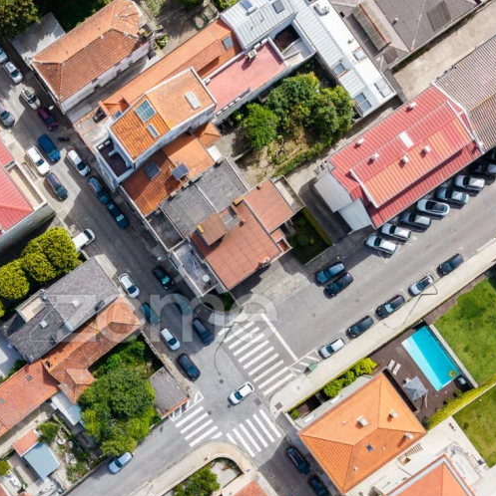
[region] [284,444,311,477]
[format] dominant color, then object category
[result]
black car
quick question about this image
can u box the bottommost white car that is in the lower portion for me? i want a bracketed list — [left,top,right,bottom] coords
[227,381,256,405]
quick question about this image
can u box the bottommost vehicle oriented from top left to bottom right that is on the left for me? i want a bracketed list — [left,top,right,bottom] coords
[176,351,202,383]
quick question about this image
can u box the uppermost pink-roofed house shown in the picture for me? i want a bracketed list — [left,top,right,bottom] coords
[204,38,289,124]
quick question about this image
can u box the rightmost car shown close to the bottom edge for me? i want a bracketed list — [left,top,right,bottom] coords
[307,473,330,496]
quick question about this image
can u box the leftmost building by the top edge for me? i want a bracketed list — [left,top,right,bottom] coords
[32,0,152,108]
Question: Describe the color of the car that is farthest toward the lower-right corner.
black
